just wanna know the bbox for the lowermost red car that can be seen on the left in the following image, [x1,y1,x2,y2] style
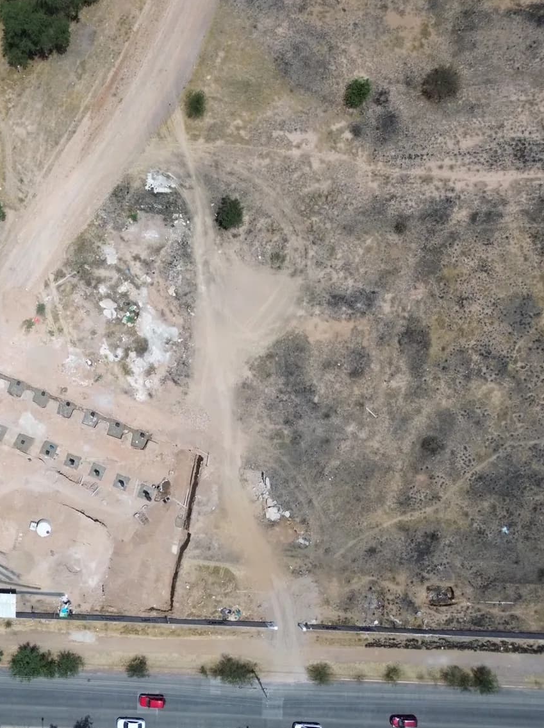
[139,694,166,709]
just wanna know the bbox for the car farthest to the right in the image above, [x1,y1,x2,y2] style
[391,713,419,728]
